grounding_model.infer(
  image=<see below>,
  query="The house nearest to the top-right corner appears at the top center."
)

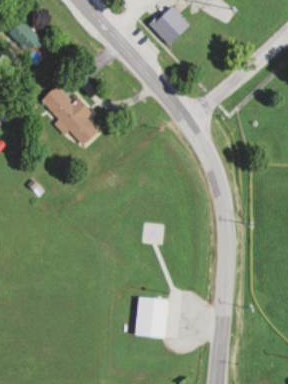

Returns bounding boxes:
[152,8,190,45]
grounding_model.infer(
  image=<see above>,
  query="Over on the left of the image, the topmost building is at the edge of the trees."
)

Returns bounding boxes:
[10,22,40,51]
